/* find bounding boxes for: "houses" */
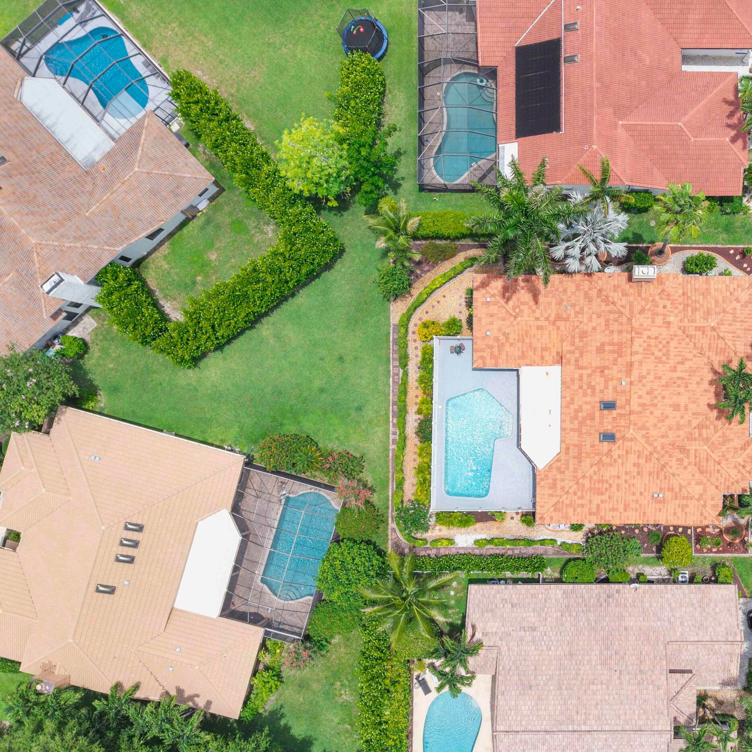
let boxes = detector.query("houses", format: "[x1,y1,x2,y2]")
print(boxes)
[0,41,218,384]
[0,408,271,720]
[470,0,752,198]
[469,582,743,752]
[471,265,752,526]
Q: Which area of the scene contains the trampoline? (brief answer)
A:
top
